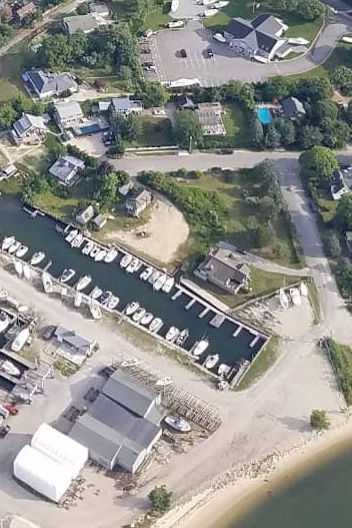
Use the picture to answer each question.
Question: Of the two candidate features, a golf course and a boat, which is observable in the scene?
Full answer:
There is a boat in the scene.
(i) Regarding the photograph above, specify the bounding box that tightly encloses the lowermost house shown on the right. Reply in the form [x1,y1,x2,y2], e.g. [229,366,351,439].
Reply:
[196,244,251,304]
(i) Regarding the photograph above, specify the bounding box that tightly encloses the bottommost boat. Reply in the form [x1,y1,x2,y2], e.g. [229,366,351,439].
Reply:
[163,415,190,432]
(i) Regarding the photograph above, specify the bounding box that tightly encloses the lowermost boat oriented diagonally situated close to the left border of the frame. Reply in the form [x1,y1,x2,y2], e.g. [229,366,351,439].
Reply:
[0,356,20,376]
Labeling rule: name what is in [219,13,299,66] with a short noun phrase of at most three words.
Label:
building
